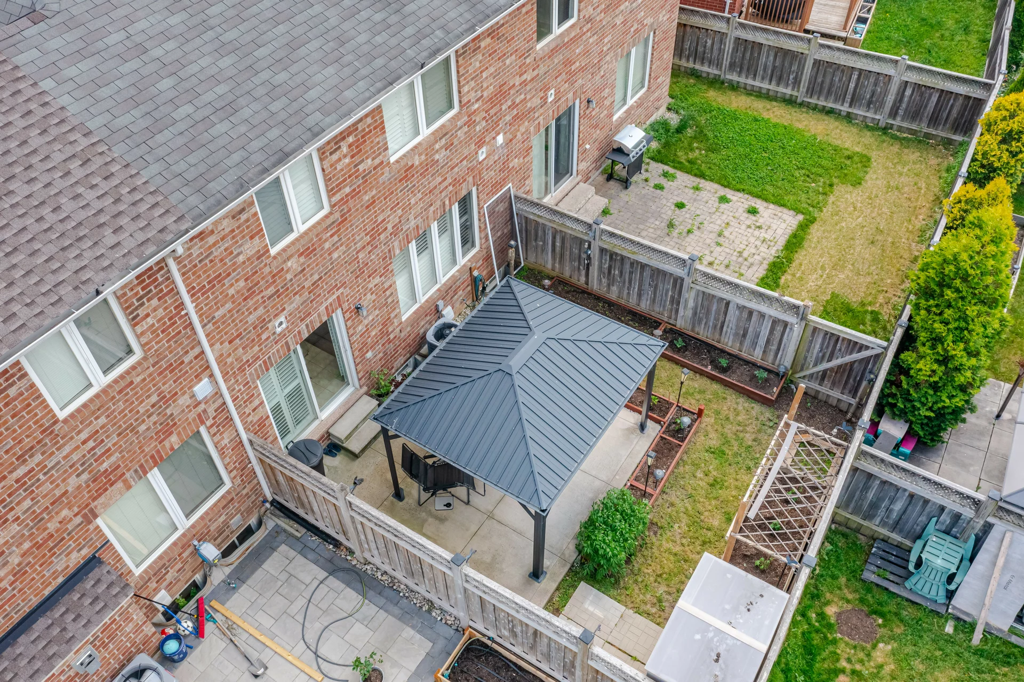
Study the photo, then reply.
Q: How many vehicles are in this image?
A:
zero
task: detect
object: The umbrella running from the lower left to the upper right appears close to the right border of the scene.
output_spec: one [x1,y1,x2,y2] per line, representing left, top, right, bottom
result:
[993,370,1024,420]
